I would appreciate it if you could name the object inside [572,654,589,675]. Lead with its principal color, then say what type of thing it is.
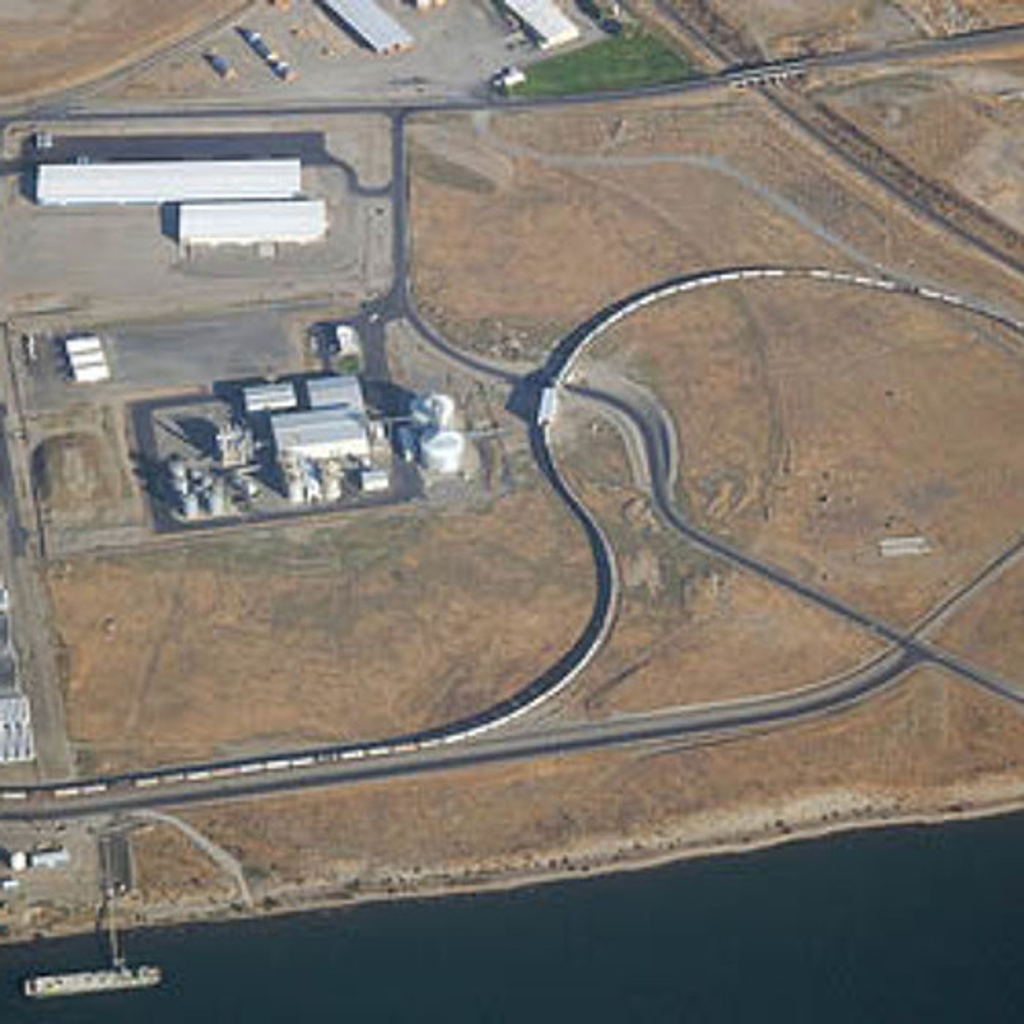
white rail car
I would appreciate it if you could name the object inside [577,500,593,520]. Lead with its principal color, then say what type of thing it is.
gray rail car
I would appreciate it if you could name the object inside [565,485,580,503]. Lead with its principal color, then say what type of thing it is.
gray rail car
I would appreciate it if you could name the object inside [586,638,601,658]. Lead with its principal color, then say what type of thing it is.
white rail car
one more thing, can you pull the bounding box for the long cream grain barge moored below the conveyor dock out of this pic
[26,970,159,1000]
